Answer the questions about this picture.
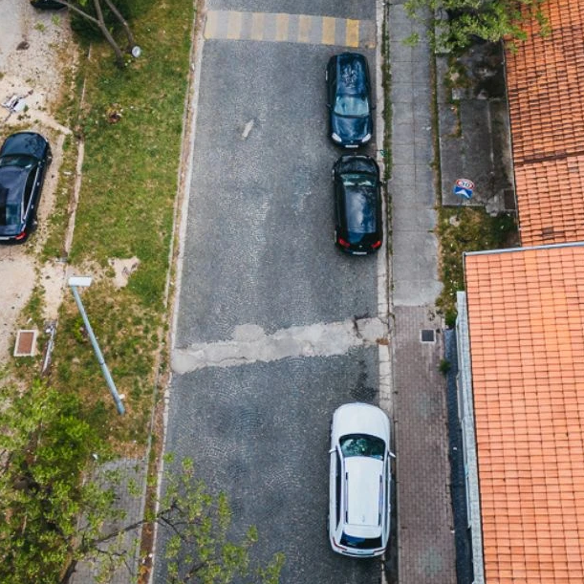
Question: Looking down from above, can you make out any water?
No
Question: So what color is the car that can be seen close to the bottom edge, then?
white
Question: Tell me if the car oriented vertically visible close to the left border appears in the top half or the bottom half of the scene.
top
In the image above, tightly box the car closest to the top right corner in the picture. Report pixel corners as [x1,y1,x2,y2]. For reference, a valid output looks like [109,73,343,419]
[325,47,381,149]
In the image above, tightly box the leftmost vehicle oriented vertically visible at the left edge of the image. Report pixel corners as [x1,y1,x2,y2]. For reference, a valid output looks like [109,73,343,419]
[0,129,50,246]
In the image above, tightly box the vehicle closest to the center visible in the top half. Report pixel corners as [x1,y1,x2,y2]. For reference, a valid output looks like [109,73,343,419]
[328,150,389,258]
